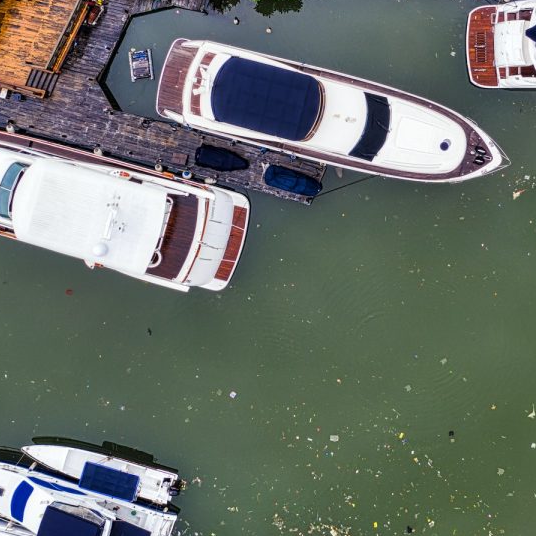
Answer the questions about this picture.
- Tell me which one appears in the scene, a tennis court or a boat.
boat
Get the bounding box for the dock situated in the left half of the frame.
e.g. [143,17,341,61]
[0,0,327,204]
